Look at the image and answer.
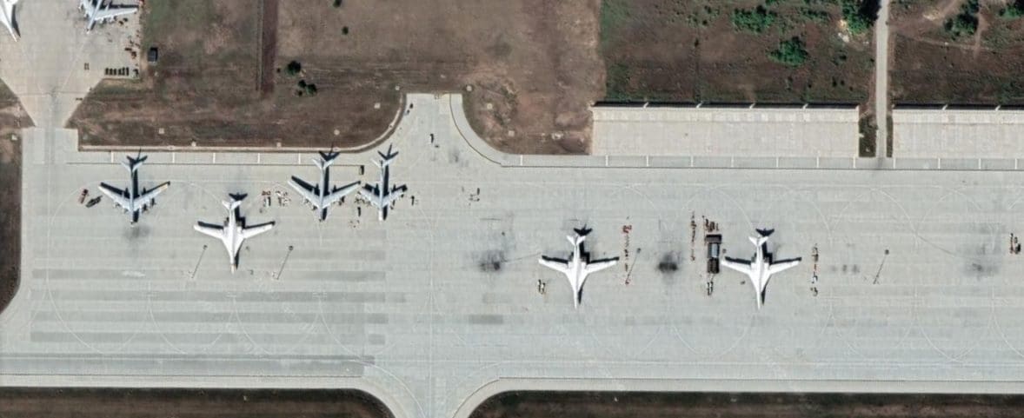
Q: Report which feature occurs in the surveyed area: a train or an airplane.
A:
airplane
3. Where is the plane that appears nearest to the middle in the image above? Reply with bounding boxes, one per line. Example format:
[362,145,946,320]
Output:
[537,232,615,307]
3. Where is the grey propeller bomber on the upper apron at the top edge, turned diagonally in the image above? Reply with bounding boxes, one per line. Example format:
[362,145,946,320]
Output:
[78,0,135,33]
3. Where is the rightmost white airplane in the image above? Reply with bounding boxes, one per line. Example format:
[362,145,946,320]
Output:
[720,233,798,308]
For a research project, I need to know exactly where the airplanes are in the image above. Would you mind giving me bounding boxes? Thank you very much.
[720,233,798,308]
[288,154,357,224]
[0,0,19,42]
[361,153,401,220]
[195,197,271,272]
[78,0,135,33]
[537,232,615,307]
[98,158,166,225]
